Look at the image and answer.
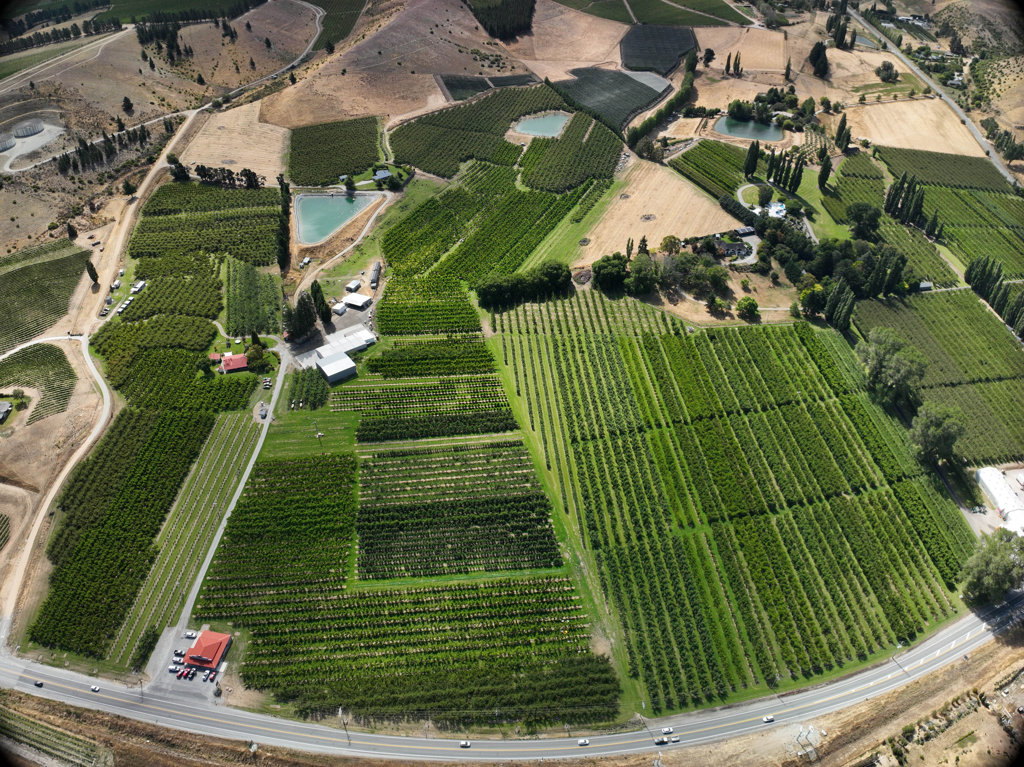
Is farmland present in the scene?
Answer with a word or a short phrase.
Yes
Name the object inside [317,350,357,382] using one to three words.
shed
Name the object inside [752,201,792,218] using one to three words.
house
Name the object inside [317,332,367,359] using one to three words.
shed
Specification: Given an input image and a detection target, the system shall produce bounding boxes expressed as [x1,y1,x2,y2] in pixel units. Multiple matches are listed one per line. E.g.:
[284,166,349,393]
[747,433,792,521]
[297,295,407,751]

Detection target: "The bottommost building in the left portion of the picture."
[183,630,232,671]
